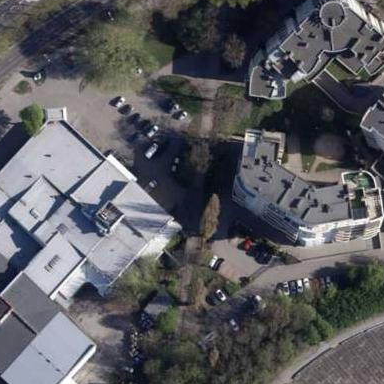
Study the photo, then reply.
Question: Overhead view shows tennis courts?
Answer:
No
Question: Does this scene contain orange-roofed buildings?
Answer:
No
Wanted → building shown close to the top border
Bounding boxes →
[250,0,384,105]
